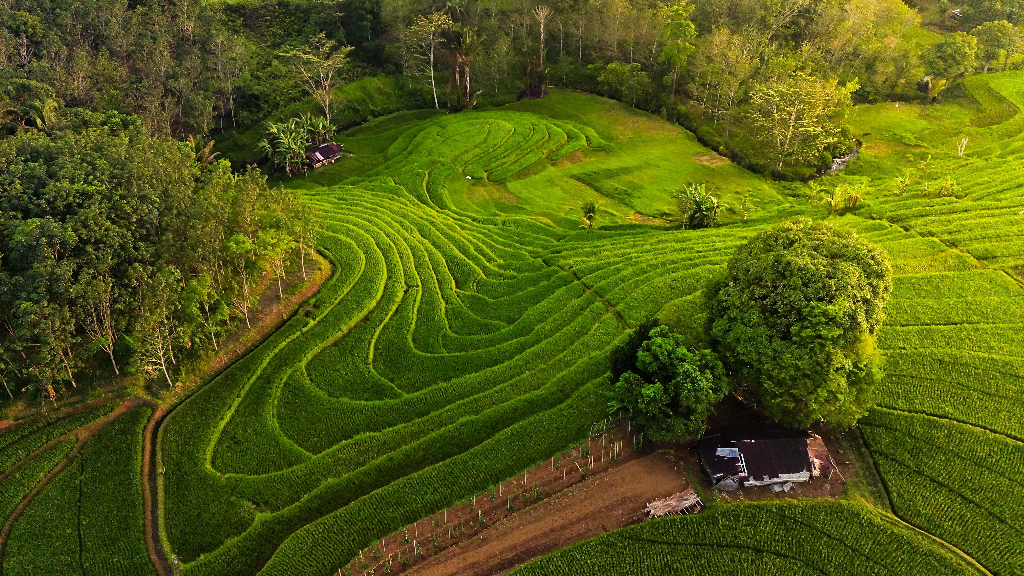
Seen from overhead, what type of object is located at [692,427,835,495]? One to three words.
shed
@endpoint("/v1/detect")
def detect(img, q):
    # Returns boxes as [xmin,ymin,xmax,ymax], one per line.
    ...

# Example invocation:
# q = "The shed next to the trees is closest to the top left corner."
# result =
[306,142,344,174]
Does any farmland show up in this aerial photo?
Yes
